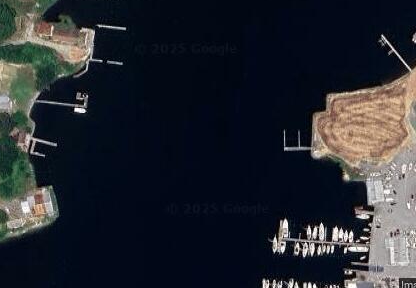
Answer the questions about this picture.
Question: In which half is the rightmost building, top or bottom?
bottom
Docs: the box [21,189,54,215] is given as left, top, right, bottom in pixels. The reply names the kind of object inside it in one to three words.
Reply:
house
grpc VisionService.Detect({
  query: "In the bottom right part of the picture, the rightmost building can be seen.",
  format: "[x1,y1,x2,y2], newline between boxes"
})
[386,237,410,265]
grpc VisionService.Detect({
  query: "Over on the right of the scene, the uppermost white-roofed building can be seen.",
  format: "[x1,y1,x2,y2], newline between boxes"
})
[368,180,386,202]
